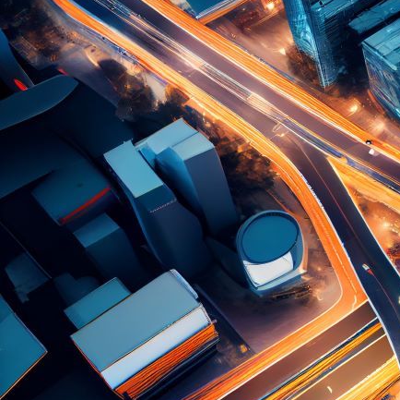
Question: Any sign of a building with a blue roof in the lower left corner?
Yes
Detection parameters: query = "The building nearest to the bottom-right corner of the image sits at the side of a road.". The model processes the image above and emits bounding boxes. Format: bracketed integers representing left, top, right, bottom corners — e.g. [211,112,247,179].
[235,206,314,292]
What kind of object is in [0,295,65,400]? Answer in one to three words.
building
